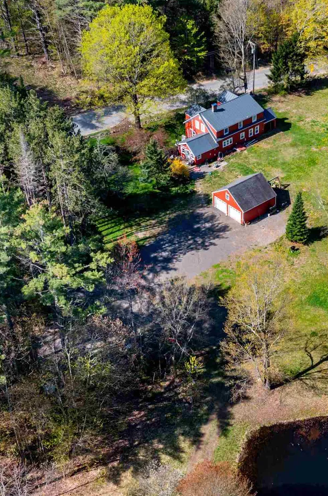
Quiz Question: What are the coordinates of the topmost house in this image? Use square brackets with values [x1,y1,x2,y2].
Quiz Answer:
[177,90,279,164]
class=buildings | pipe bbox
[211,171,277,224]
[177,90,279,164]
